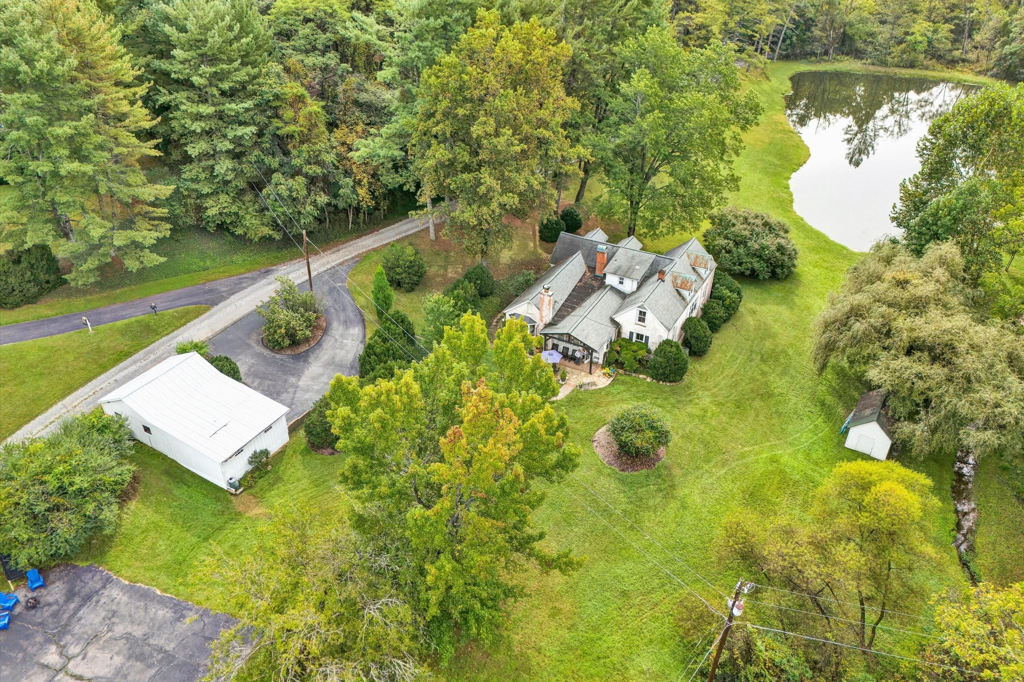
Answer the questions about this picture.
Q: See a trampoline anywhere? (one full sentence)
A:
No, no trampoline is visible in the scene.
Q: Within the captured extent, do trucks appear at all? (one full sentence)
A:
No, there is no truck in the image.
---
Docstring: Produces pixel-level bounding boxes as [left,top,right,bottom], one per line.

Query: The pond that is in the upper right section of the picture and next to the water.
[787,74,1005,252]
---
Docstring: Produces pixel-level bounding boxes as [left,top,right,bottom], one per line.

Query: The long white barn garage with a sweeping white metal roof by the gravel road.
[96,354,293,490]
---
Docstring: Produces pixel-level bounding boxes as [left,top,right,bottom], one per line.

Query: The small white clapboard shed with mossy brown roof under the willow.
[845,389,907,458]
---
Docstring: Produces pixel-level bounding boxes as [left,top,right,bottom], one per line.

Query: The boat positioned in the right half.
[836,418,851,441]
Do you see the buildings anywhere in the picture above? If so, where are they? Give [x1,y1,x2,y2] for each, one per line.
[96,354,293,490]
[504,227,718,375]
[845,389,907,458]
